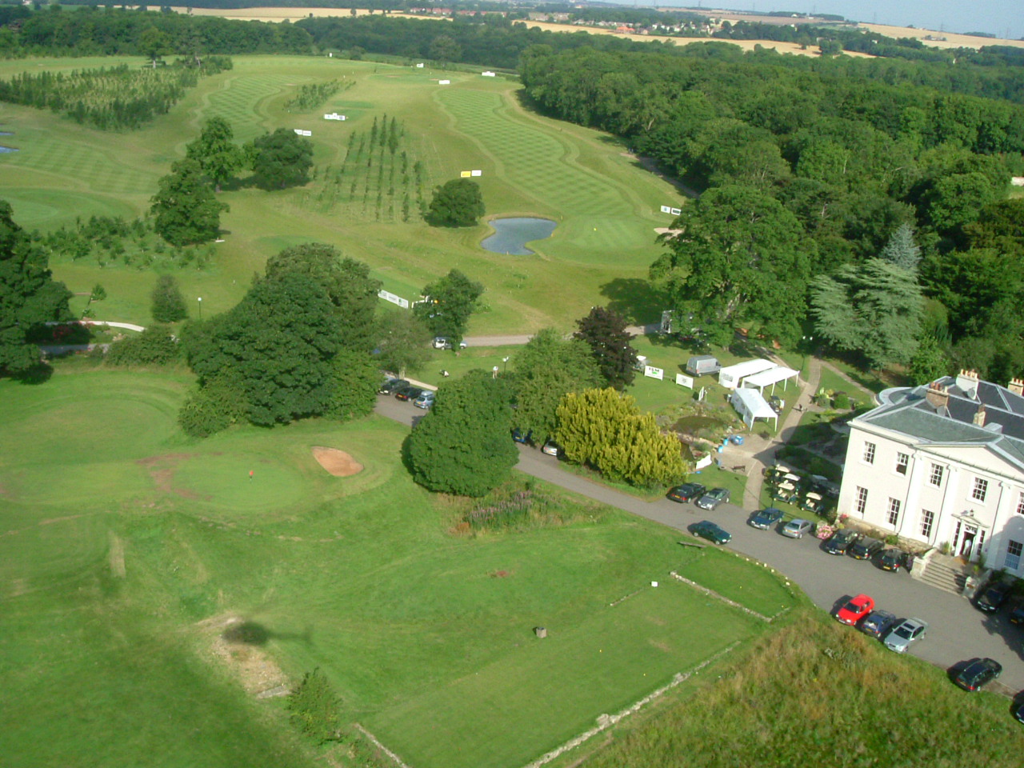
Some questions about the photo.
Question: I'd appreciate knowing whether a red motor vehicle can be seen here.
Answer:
Yes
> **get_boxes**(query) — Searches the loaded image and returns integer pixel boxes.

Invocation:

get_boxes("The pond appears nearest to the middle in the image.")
[481,216,555,255]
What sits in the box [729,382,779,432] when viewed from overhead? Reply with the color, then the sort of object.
white tent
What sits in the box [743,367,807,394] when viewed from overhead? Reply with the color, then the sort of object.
white tent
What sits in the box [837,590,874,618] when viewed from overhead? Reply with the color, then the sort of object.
red car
